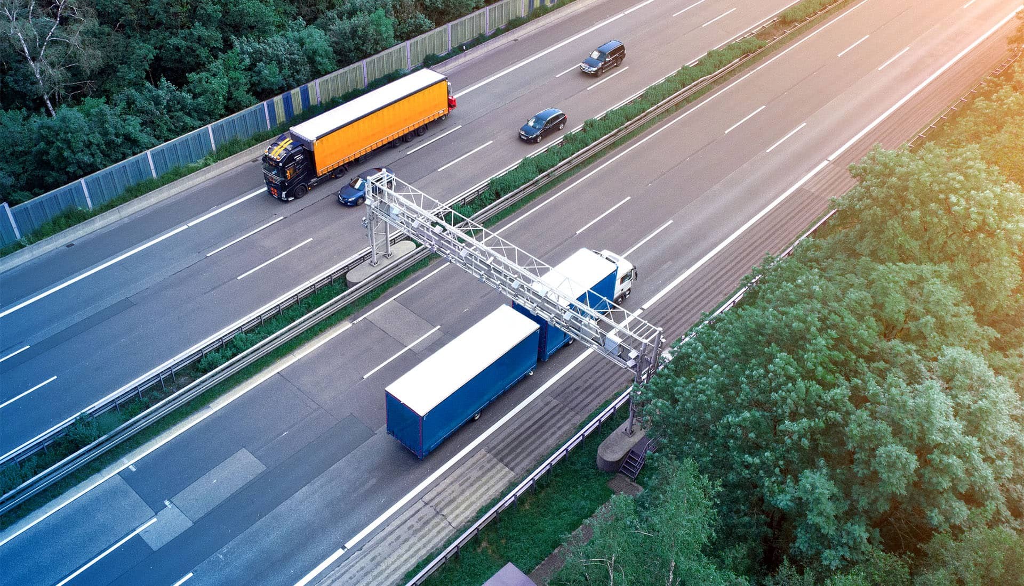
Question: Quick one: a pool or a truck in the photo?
truck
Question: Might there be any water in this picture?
No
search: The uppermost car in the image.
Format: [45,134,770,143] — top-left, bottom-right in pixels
[578,40,626,76]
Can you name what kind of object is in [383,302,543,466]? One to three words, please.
trailer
